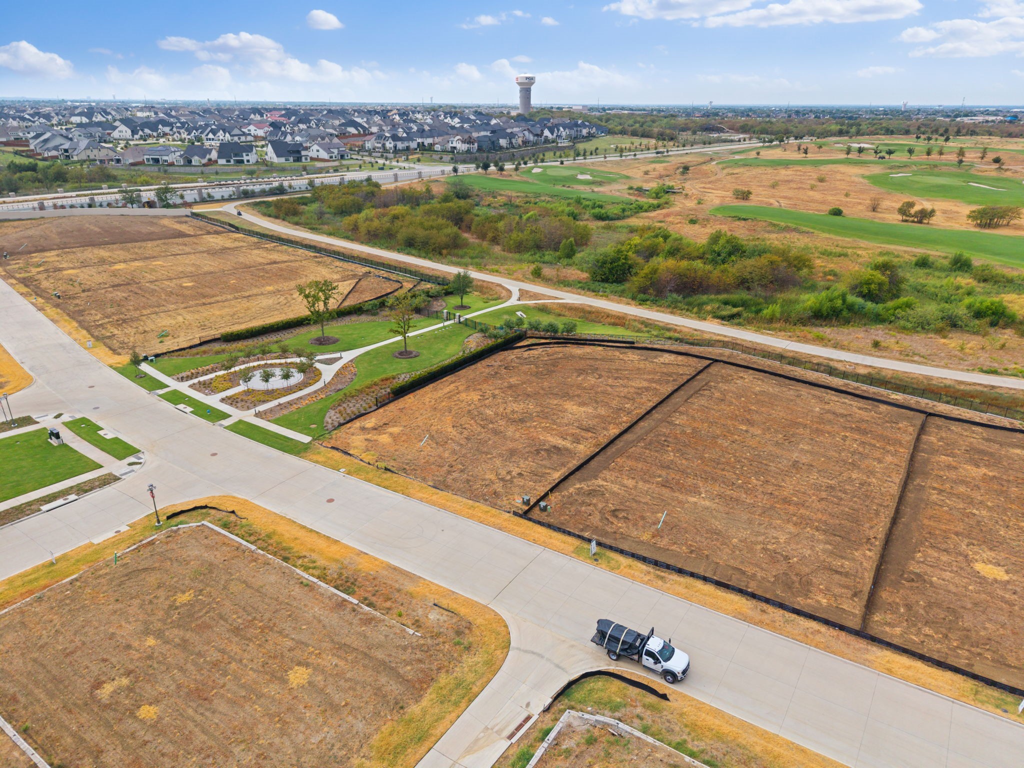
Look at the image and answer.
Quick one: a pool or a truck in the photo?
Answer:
truck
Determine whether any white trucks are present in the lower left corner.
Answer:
No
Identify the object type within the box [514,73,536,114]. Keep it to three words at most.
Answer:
water tower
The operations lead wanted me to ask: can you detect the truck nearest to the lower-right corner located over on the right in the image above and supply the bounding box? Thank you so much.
[592,621,694,681]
